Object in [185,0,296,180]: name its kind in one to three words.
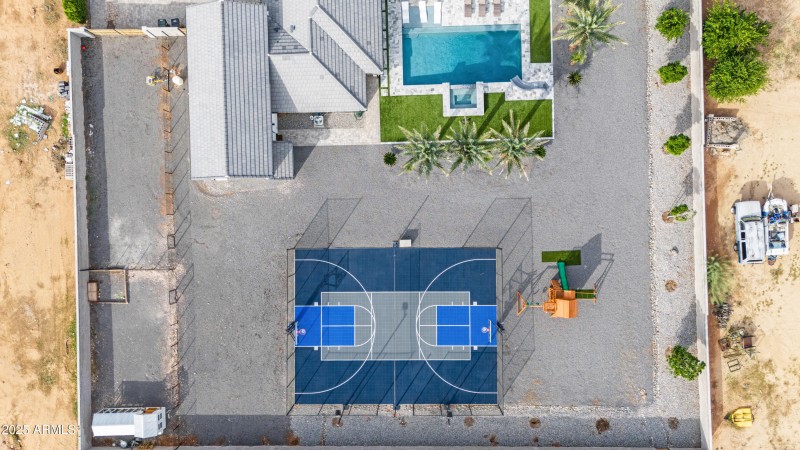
building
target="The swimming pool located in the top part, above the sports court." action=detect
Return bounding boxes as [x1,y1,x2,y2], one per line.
[402,6,521,116]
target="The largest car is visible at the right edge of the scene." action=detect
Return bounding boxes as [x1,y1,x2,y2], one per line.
[733,201,769,264]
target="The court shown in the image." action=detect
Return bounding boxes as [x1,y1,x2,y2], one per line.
[288,247,504,406]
